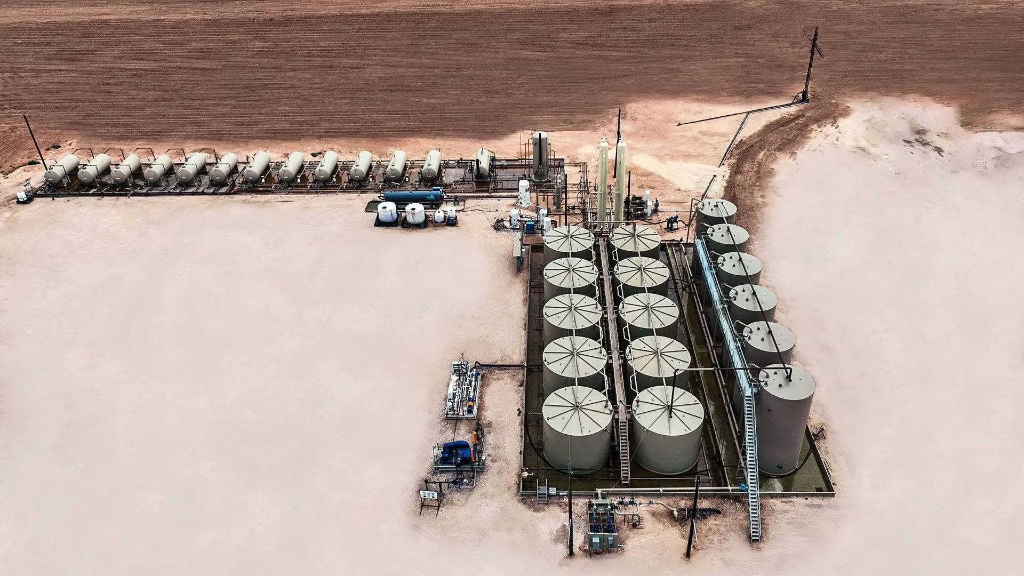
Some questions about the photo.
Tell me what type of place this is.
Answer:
industrial area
